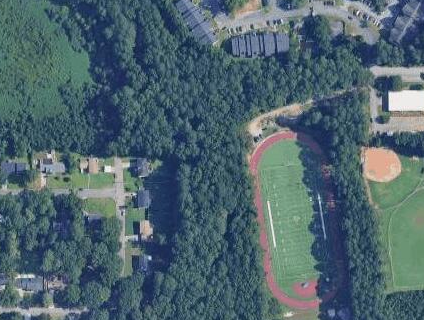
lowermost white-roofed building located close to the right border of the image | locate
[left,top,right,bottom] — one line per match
[390,90,424,112]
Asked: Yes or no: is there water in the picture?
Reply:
No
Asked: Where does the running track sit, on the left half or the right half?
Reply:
right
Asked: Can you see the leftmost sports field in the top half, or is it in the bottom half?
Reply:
bottom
